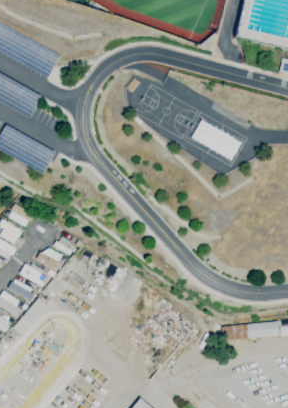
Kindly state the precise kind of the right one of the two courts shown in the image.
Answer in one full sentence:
The right one of the two courts can be classified as a basketball court.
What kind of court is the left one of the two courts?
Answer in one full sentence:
Specifically, the left one of the two courts is a basketball court.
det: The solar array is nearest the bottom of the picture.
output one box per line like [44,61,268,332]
[0,124,55,173]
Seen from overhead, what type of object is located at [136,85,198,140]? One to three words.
basketball court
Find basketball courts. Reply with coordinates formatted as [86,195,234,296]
[136,85,198,140]
[186,112,247,166]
